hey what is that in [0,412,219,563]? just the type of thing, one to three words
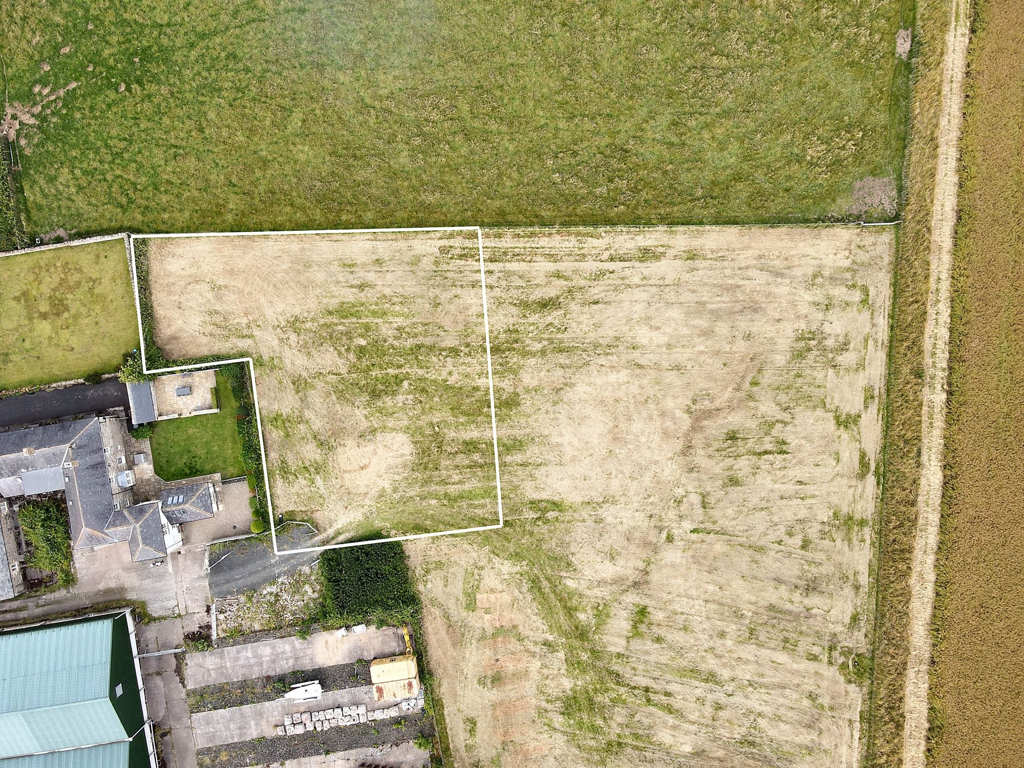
house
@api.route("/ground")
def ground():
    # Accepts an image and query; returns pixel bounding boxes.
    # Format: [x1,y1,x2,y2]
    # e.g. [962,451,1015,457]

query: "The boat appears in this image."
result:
[275,680,325,703]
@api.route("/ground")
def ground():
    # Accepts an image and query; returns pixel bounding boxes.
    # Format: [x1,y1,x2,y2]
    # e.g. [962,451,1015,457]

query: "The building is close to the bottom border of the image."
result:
[0,607,153,768]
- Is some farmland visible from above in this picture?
Yes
